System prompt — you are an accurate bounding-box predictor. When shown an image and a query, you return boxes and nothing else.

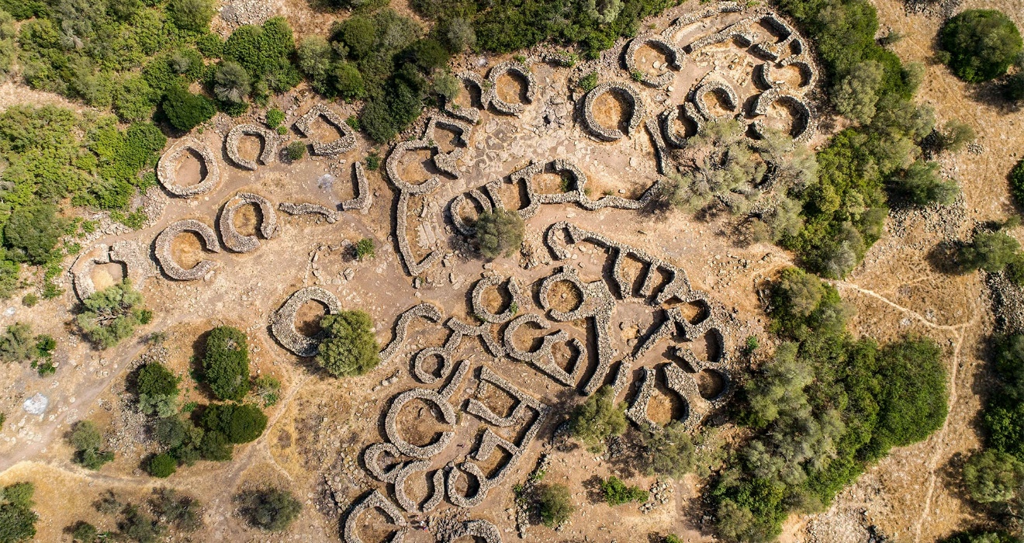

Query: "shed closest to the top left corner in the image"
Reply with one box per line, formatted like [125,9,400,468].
[159,138,222,197]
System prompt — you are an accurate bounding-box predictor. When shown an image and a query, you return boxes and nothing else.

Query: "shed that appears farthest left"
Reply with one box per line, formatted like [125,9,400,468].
[72,245,147,299]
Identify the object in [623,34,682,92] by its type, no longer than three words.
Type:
shed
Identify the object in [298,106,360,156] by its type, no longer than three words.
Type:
house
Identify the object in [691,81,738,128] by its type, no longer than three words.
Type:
shed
